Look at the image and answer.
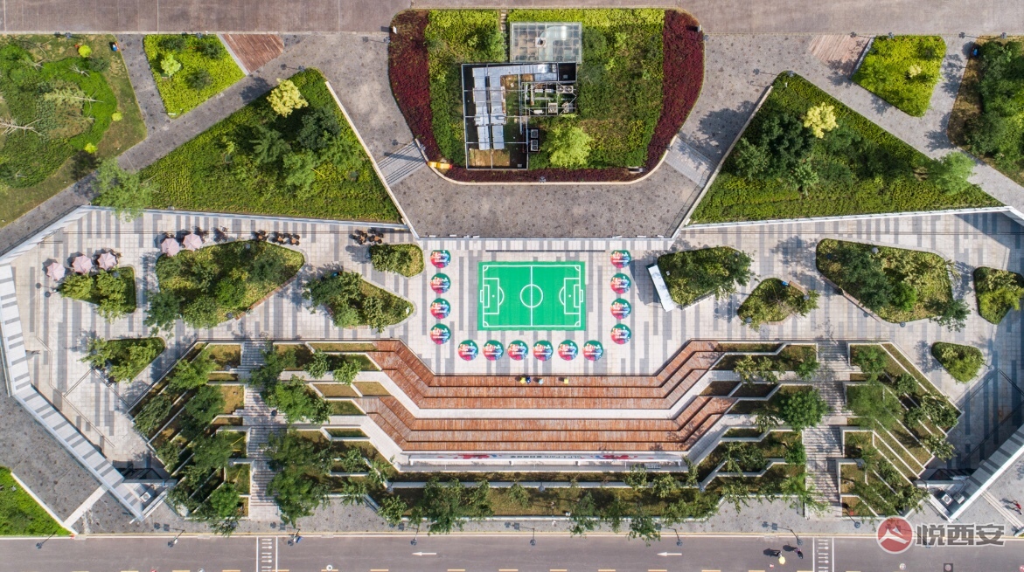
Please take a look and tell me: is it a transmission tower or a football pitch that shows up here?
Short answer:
football pitch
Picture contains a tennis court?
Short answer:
No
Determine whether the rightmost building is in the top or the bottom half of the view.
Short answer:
bottom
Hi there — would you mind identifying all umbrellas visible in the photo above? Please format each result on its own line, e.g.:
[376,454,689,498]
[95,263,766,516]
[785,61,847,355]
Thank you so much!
[46,262,70,281]
[182,231,203,251]
[73,254,96,274]
[97,251,120,271]
[160,237,181,256]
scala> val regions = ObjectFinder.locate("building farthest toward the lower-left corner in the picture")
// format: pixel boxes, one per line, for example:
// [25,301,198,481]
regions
[113,463,180,518]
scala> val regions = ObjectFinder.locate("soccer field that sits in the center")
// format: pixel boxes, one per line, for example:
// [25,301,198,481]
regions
[478,261,585,331]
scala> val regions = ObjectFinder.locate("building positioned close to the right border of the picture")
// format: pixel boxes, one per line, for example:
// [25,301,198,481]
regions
[910,464,978,521]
